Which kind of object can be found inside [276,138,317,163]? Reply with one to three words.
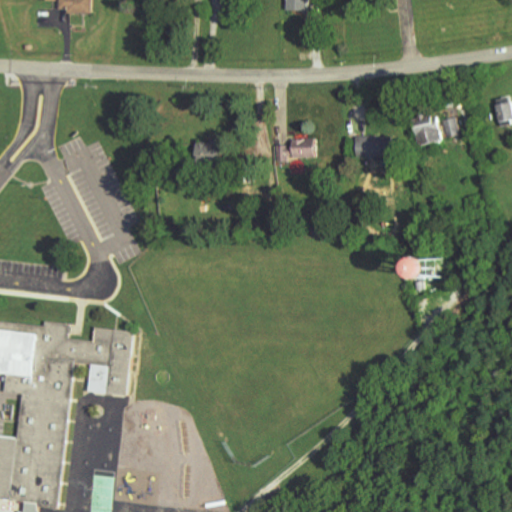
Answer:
house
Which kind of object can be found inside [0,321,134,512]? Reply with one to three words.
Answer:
building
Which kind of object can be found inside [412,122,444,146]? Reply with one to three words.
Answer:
house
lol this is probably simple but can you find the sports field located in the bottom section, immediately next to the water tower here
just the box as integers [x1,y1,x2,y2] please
[130,242,406,495]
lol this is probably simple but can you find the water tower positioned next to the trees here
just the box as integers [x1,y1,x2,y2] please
[396,255,444,282]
